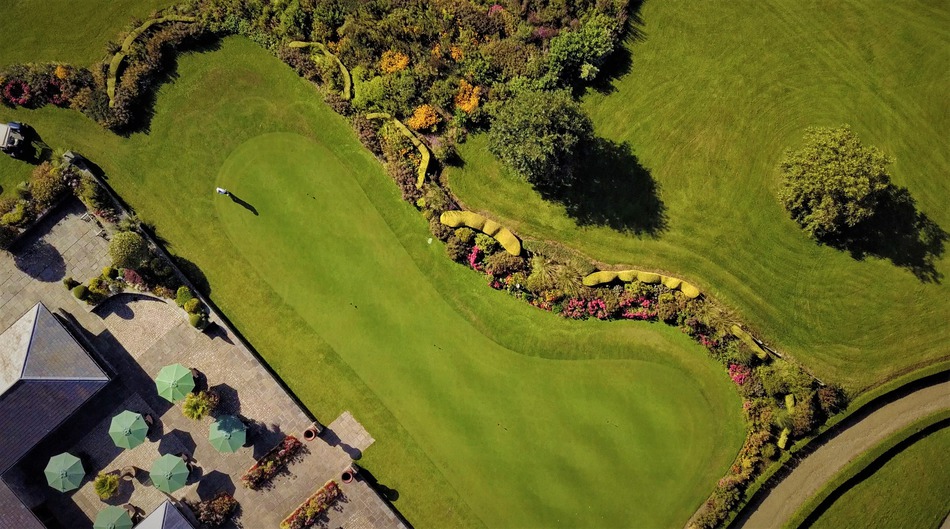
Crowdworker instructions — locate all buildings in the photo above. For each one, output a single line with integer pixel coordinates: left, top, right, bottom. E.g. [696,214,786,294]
[0,302,125,529]
[134,492,223,529]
